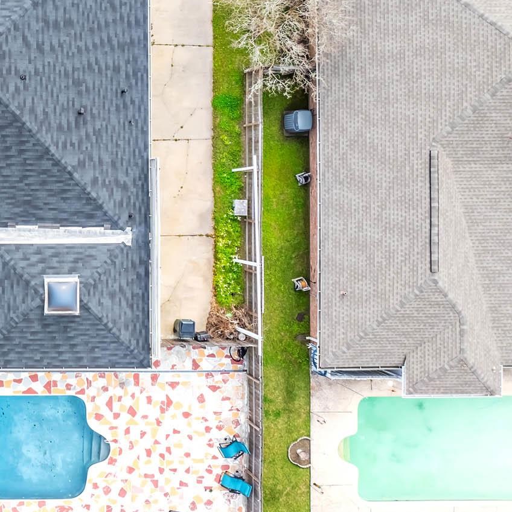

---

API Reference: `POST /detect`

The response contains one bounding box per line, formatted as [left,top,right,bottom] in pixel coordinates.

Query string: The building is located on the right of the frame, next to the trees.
[293,0,512,398]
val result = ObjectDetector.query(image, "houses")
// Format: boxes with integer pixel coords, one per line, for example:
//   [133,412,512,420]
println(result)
[293,0,512,398]
[0,0,160,370]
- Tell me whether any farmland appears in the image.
No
